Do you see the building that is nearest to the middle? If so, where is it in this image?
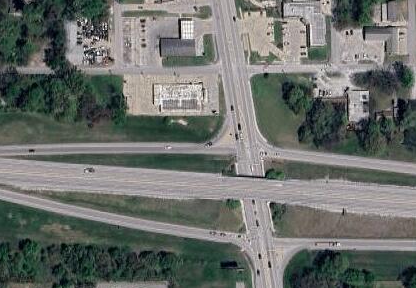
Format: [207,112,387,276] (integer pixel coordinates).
[154,84,203,105]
